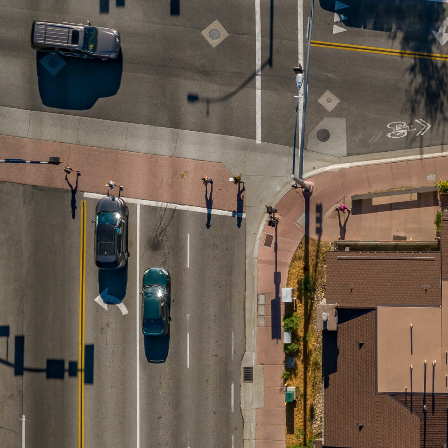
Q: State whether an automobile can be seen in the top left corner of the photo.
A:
Yes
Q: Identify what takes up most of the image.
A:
paved ground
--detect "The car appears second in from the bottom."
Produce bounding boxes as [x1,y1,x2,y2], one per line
[89,197,127,271]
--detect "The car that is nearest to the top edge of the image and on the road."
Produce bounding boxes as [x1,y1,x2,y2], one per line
[30,19,120,61]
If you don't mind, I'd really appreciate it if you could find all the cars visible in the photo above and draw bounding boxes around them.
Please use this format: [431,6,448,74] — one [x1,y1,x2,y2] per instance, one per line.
[138,266,171,336]
[30,19,120,61]
[89,197,127,271]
